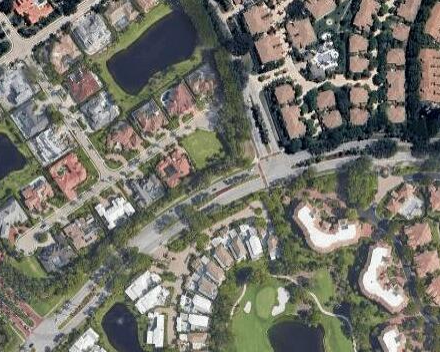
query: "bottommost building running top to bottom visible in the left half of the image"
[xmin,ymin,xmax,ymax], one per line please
[147,308,165,347]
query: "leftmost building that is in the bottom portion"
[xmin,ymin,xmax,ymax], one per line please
[0,196,30,239]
